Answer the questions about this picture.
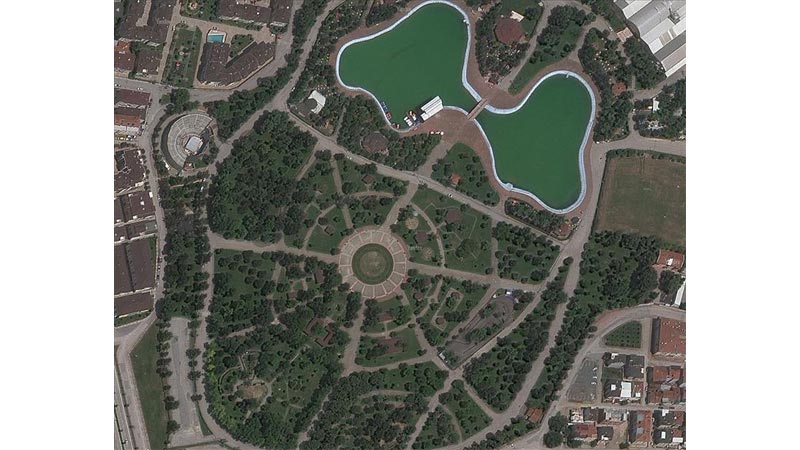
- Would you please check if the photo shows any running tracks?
Yes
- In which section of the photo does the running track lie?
bottom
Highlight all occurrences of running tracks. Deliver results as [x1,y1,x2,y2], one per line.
[445,295,515,366]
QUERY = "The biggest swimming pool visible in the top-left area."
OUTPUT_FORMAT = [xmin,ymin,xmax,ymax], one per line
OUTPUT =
[206,30,227,44]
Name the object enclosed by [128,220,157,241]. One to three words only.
building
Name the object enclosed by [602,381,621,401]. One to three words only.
house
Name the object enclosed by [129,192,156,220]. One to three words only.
building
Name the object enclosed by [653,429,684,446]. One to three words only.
house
